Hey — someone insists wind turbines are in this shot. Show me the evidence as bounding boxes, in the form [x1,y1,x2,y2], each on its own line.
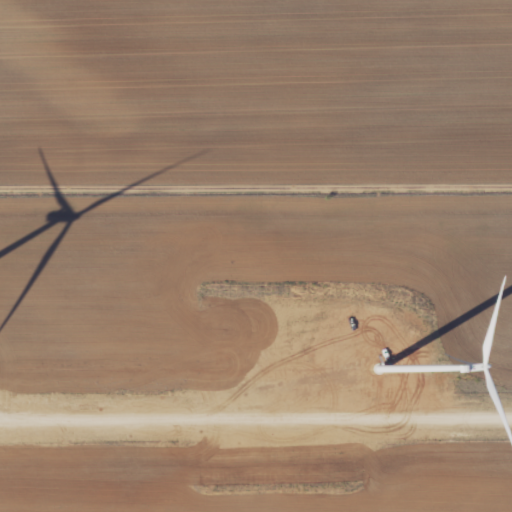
[374,274,512,446]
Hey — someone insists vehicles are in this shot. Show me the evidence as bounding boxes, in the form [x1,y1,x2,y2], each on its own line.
[383,348,390,359]
[350,316,357,330]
